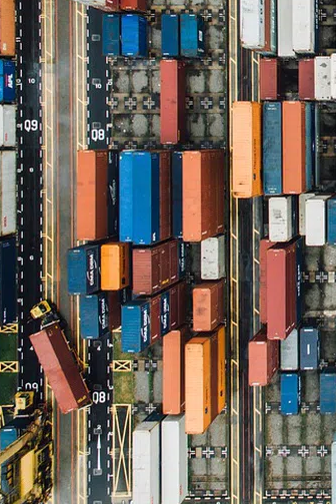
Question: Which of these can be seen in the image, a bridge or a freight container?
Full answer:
There is a freight container in the scene.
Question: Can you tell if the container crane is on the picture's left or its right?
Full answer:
The container crane is on the left side of the image.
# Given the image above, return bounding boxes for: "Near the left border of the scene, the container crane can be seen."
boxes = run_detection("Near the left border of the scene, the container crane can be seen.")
[0,409,56,504]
